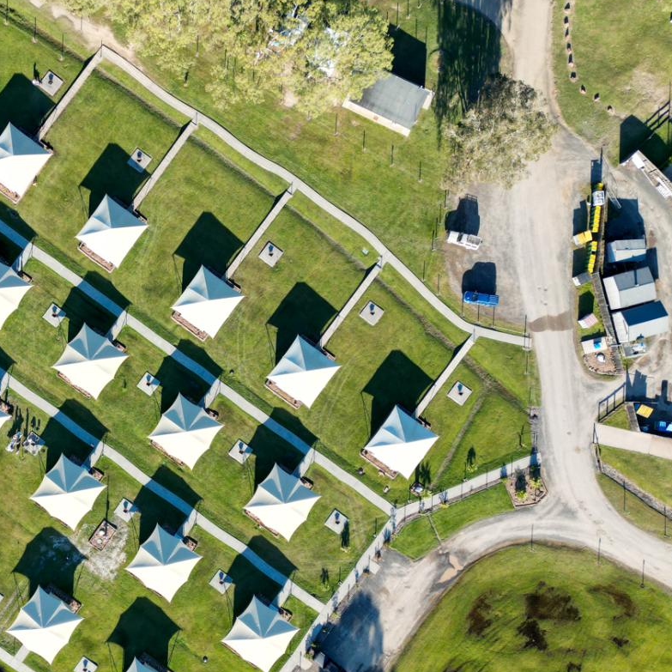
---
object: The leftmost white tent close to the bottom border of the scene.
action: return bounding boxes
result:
[8,566,94,660]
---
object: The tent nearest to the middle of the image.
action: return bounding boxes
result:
[252,327,338,419]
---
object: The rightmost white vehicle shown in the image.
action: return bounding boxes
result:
[445,232,482,248]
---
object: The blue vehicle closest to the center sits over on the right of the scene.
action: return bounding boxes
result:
[464,292,498,306]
